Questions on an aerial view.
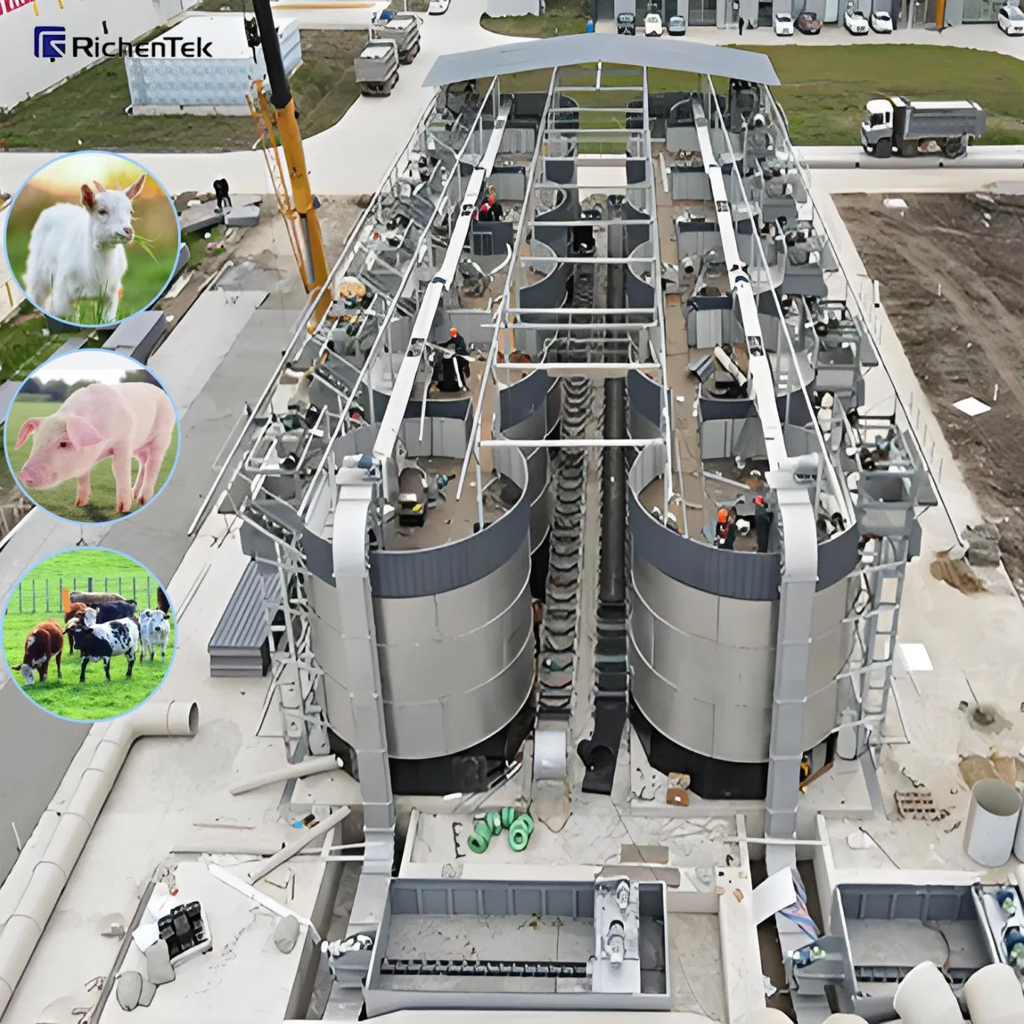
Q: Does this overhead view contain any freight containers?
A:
No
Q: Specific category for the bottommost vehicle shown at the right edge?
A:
truck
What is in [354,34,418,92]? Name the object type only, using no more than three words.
truck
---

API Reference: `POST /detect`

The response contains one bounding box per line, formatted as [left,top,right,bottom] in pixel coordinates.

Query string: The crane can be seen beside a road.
[249,0,377,340]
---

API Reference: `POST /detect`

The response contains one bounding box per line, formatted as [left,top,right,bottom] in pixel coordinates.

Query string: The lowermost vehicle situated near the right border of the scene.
[855,97,996,156]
